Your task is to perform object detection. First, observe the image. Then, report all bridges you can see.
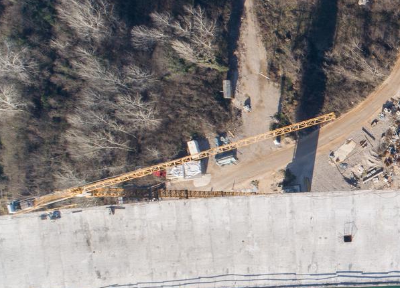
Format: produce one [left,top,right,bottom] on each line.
[0,191,400,288]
